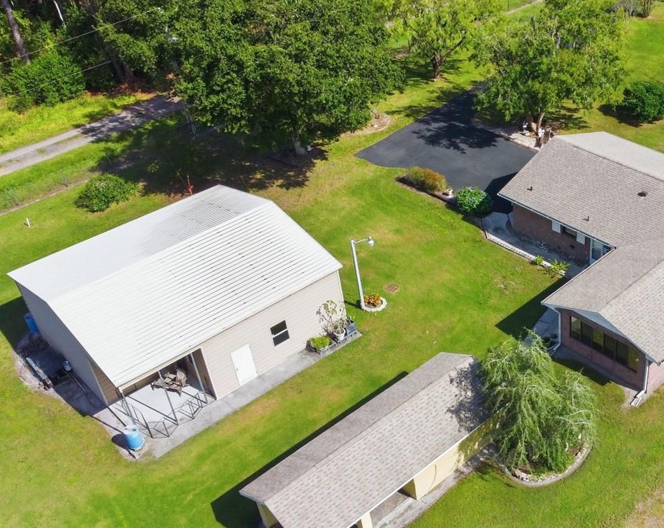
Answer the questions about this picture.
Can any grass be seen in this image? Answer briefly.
Yes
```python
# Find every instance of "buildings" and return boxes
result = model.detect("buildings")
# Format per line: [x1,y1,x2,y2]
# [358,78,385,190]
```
[239,355,511,528]
[4,182,352,436]
[497,132,664,407]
